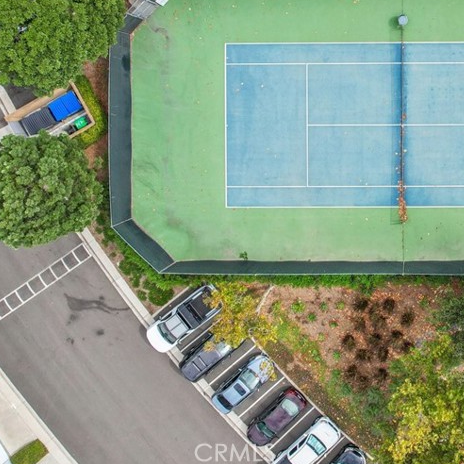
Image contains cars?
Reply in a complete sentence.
Yes, a car appears in the view.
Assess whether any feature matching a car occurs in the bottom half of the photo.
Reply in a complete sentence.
Yes, a car is visible in the bottom half of the photo.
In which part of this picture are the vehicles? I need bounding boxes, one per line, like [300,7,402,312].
[248,383,310,446]
[212,350,278,415]
[326,440,369,464]
[269,413,340,464]
[147,283,225,351]
[174,324,245,387]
